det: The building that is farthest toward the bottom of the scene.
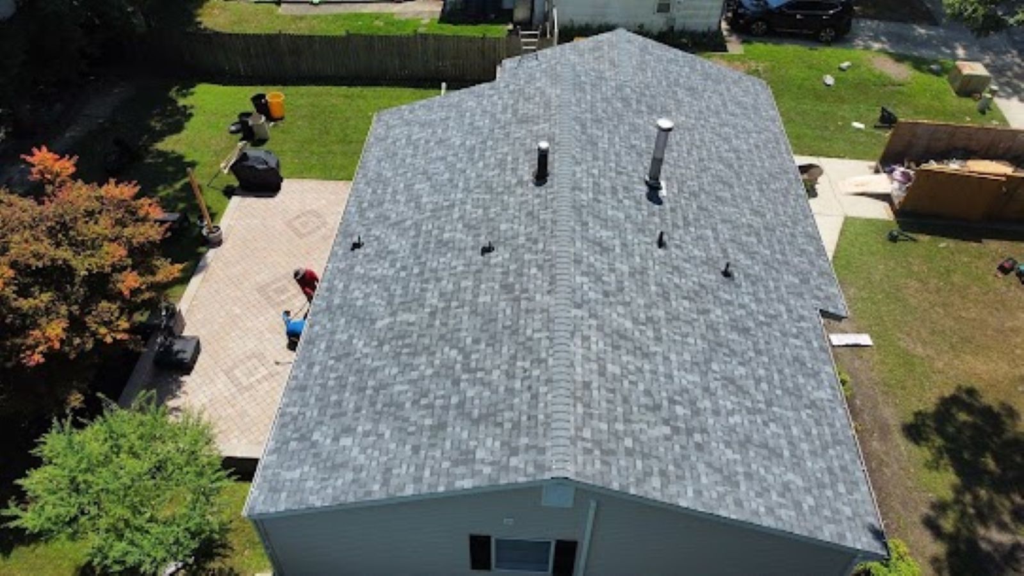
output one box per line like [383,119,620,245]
[240,26,894,576]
